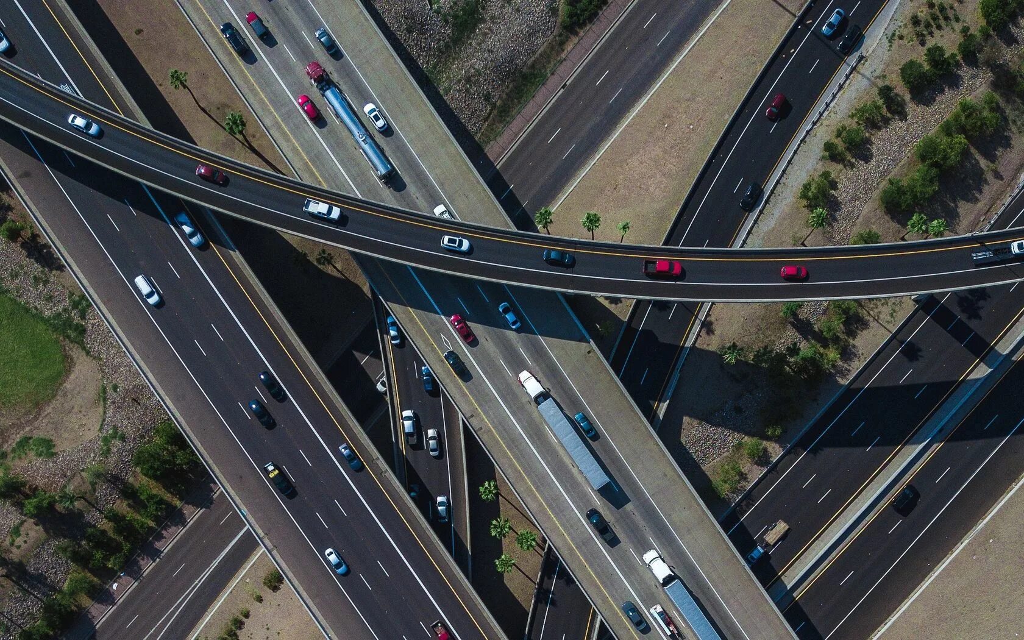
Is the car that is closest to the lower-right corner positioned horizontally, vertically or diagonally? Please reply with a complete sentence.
The car that is closest to the lower-right corner has been laid out diagonally relative to the frame.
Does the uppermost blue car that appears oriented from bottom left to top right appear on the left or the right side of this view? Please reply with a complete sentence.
The uppermost blue car that appears oriented from bottom left to top right sits on the right side.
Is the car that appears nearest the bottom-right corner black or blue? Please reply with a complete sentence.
The color of the car that appears nearest the bottom-right corner is black.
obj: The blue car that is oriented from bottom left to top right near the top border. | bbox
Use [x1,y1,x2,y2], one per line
[821,8,844,38]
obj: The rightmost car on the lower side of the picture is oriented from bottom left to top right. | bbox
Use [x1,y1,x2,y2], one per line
[893,484,919,511]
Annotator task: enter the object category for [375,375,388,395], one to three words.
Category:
vehicle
